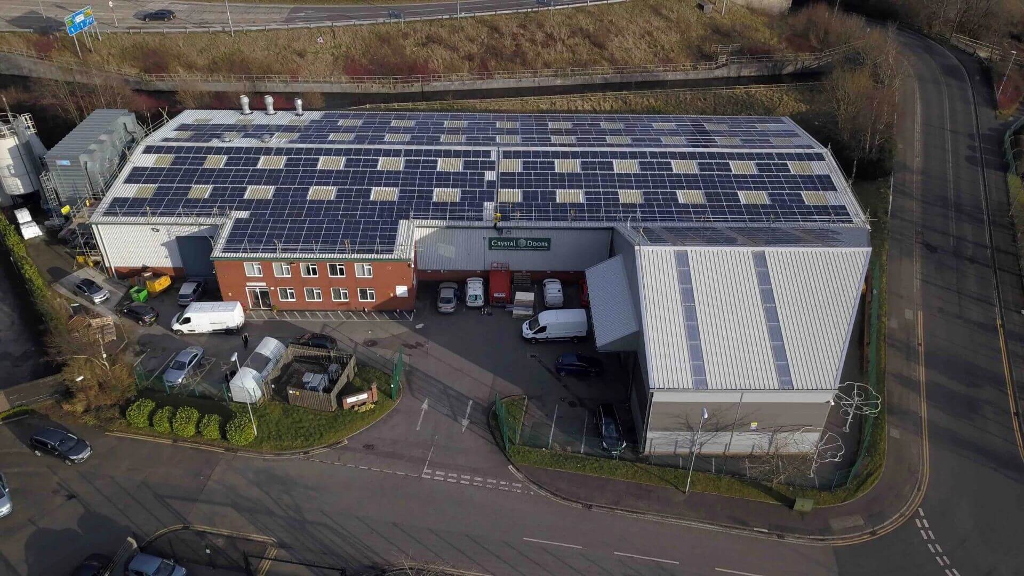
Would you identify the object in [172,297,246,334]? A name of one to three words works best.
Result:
van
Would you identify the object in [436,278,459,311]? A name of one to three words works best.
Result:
car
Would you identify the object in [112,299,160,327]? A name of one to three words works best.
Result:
car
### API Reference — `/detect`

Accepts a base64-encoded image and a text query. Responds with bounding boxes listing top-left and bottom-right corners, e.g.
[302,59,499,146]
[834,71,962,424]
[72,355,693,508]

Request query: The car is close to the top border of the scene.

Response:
[143,7,176,22]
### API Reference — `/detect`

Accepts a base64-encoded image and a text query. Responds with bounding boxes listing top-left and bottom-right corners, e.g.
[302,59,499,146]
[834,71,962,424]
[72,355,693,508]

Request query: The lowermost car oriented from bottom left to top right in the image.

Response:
[160,342,207,384]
